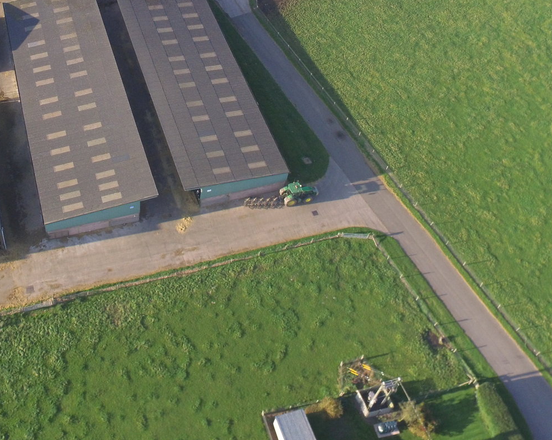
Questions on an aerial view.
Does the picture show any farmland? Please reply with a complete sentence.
Yes, some farmland is visible.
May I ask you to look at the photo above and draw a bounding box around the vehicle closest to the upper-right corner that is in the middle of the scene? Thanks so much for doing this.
[278,183,315,208]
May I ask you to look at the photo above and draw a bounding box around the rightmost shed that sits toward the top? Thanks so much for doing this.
[113,0,290,209]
